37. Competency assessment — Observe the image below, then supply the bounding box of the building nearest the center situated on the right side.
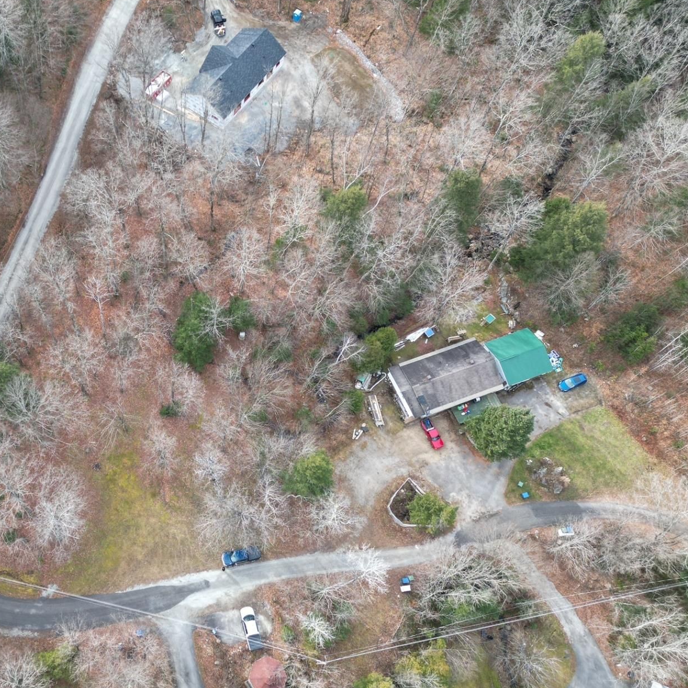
[386,338,507,422]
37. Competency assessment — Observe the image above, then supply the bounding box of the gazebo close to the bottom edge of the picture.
[249,657,288,688]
